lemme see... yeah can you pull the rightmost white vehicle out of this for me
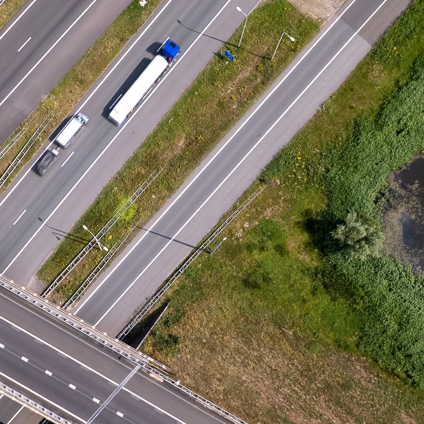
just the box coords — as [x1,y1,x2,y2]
[107,41,183,130]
